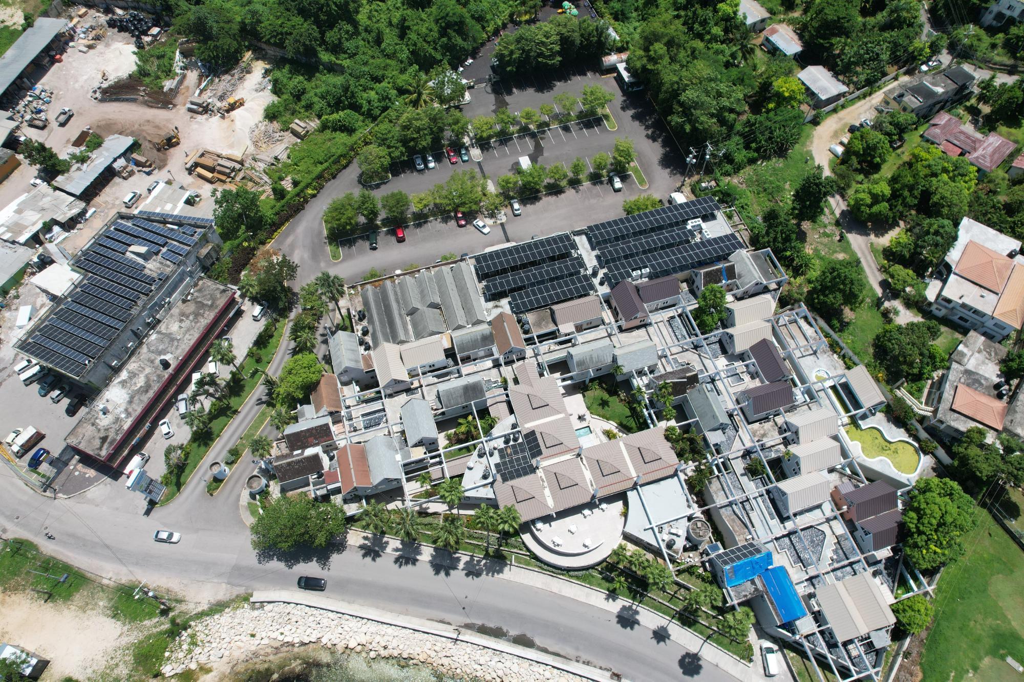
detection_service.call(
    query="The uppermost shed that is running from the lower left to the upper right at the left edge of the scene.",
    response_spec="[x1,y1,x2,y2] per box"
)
[0,18,72,107]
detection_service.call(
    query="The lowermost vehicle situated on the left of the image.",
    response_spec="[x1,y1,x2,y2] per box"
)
[295,574,329,591]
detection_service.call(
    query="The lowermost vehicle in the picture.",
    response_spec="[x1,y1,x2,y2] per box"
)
[760,642,779,679]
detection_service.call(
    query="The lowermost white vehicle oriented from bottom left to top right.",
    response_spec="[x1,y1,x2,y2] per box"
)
[120,450,151,481]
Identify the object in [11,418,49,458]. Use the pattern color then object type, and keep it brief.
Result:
white truck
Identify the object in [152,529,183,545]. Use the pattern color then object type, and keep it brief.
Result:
white car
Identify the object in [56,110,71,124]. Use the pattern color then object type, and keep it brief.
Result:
gray vehicle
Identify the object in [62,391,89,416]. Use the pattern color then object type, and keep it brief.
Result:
black car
